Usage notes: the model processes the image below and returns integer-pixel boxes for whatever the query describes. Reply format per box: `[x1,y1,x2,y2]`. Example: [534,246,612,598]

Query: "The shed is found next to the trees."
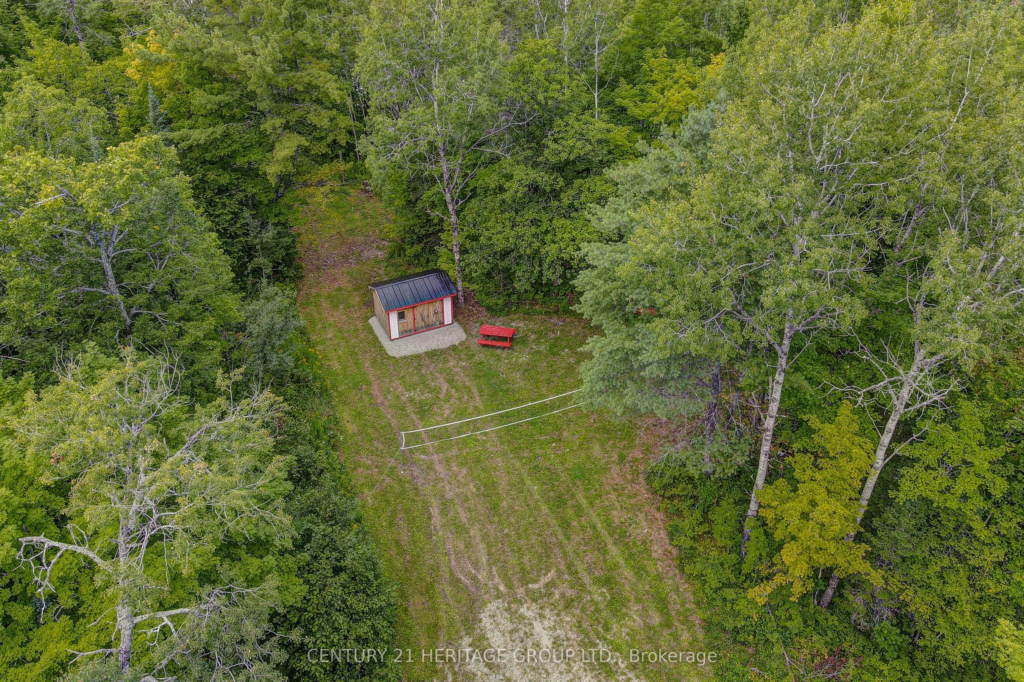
[367,269,458,340]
